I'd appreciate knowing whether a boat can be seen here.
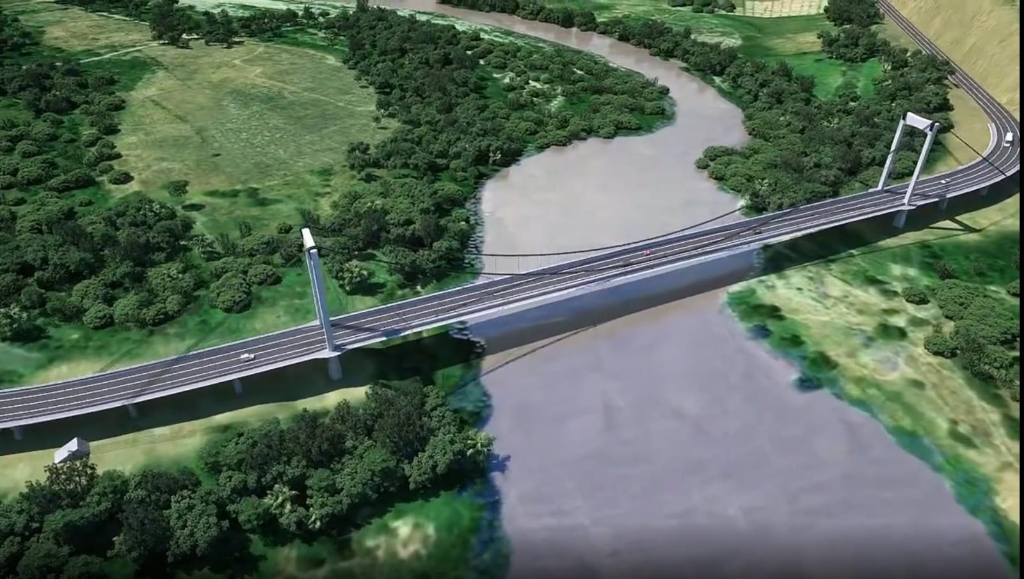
No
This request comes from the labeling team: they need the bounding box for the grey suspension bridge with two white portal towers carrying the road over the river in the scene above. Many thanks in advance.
[0,114,1024,441]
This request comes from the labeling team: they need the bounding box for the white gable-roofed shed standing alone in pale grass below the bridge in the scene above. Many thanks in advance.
[60,440,93,469]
